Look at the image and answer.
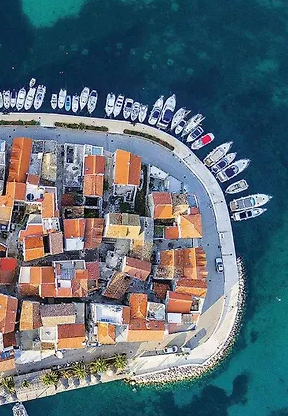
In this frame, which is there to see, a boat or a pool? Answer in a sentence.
The one in the frame is a boat.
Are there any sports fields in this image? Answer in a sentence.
No, the frame has no sports field in it.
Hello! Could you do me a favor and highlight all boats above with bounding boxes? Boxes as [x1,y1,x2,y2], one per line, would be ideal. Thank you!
[114,92,124,120]
[65,94,71,112]
[24,87,36,113]
[131,100,140,123]
[79,86,90,110]
[88,88,98,117]
[16,87,26,111]
[33,83,45,113]
[202,141,234,167]
[183,113,203,137]
[226,193,274,213]
[140,102,147,124]
[105,92,116,118]
[146,96,164,127]
[51,92,57,113]
[169,107,186,131]
[214,158,252,184]
[72,94,79,112]
[192,131,216,150]
[122,96,133,120]
[183,124,205,143]
[228,208,269,222]
[224,178,249,195]
[57,87,66,111]
[3,88,10,111]
[10,89,16,111]
[156,94,176,131]
[174,120,186,136]
[209,152,237,174]
[14,401,28,416]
